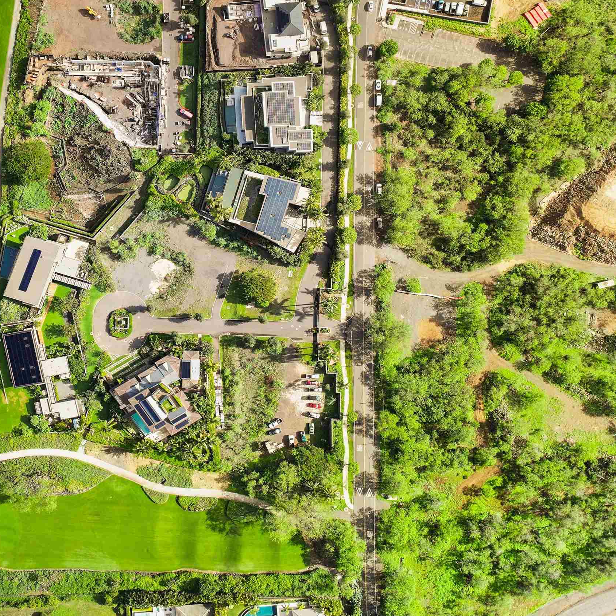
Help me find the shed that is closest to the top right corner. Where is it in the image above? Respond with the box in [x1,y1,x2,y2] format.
[523,3,550,27]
